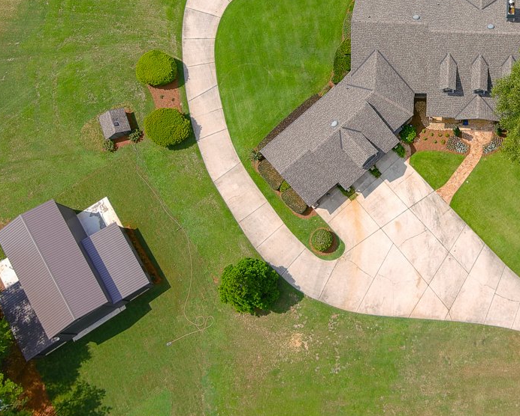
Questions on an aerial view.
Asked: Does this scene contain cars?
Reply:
No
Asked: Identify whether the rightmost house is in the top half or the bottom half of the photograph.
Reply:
top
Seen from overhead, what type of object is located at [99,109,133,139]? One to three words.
shed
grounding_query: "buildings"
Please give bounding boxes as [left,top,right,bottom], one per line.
[259,0,520,204]
[99,109,133,139]
[0,202,153,361]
